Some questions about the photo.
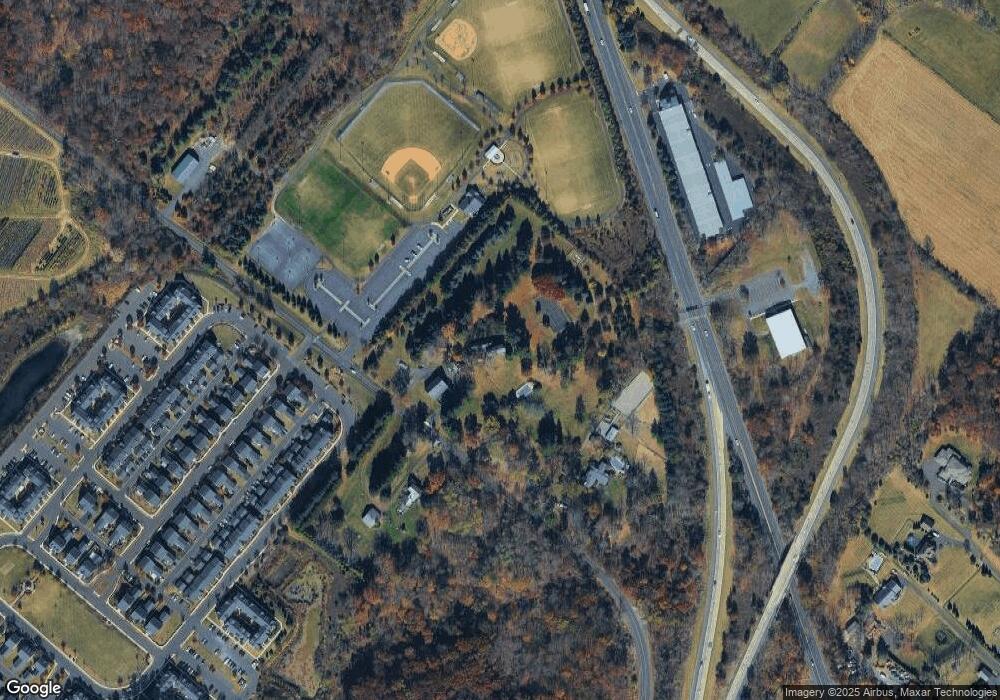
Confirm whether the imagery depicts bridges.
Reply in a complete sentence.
Yes, I can see a bridge in this picture.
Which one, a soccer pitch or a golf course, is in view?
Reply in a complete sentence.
There is a soccer pitch in the scene.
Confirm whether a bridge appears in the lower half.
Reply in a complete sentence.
Yes, a bridge shows up in the lower half.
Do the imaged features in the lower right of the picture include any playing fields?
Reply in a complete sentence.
No, no playing field appears in the lower right of the picture.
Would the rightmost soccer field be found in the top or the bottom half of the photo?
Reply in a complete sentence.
The rightmost soccer field sits in the top half of the picture.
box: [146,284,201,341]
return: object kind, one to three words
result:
building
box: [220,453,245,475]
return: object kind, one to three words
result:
house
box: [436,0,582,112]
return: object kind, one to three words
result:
baseball field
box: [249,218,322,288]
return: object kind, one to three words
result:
basketball court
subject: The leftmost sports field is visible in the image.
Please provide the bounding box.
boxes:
[274,145,402,276]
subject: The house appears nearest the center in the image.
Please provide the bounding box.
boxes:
[471,334,505,353]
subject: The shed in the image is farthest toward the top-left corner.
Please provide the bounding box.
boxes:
[170,151,202,185]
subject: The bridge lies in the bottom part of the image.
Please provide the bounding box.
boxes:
[760,518,812,627]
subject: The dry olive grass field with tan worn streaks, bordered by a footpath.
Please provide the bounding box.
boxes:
[523,92,621,217]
